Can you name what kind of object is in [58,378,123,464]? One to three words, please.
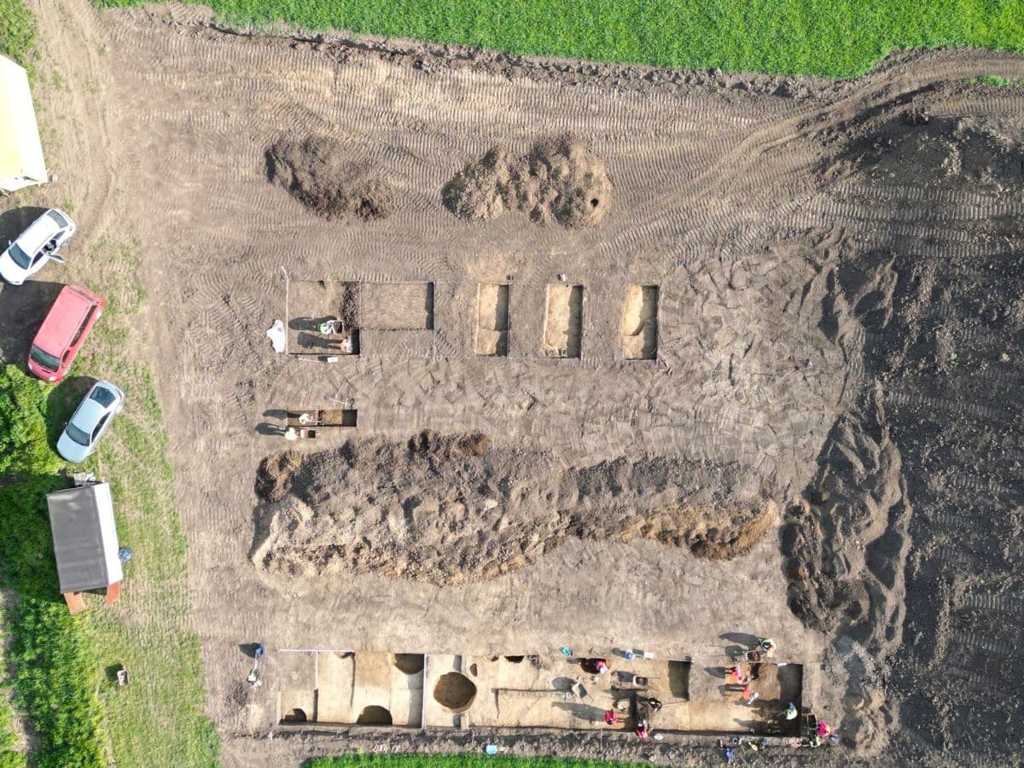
car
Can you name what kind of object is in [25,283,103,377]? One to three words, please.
van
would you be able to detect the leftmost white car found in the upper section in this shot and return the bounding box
[0,203,74,281]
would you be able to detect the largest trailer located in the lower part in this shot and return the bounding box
[46,472,125,611]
